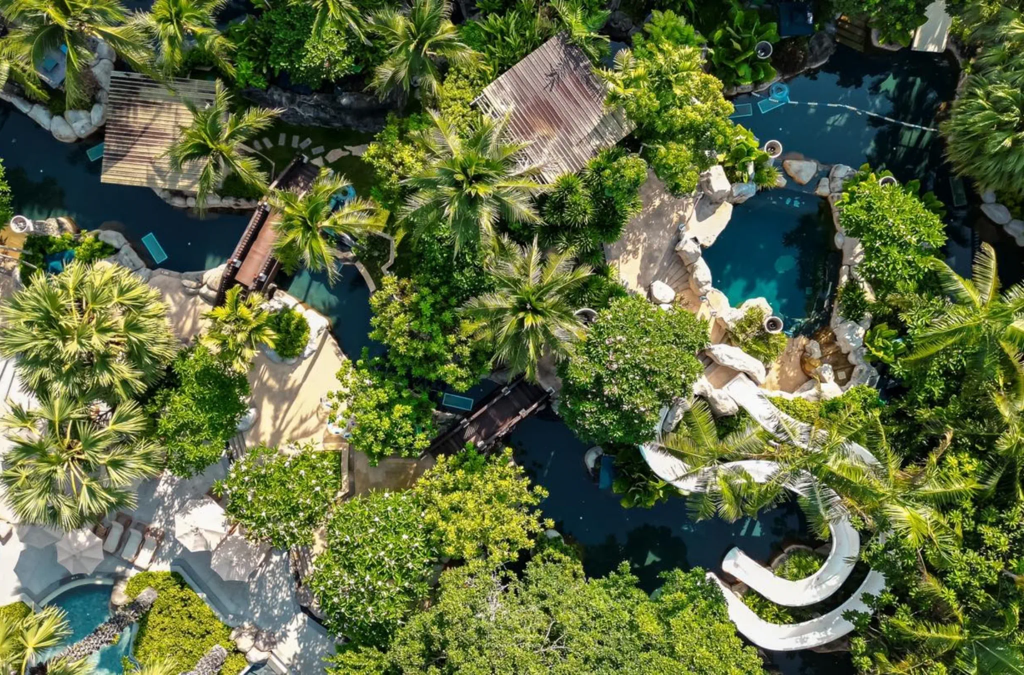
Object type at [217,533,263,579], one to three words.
umbrella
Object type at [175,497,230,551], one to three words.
umbrella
